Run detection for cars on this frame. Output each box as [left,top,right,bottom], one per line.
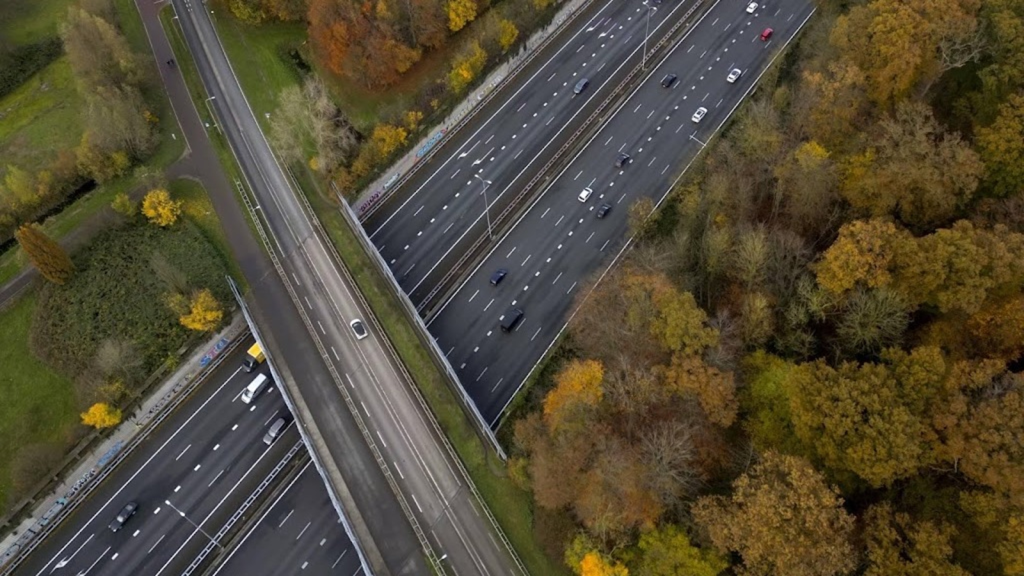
[614,153,630,169]
[260,418,289,446]
[573,77,590,94]
[726,69,741,84]
[691,108,707,123]
[651,0,664,8]
[745,2,759,15]
[577,188,594,204]
[107,501,140,532]
[661,75,676,89]
[595,203,613,221]
[760,29,772,42]
[350,318,370,342]
[488,268,509,289]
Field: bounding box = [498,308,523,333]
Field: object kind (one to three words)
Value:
vehicle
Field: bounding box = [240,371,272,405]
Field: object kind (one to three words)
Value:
van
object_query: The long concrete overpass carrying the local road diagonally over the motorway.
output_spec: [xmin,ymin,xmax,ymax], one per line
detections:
[231,193,507,576]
